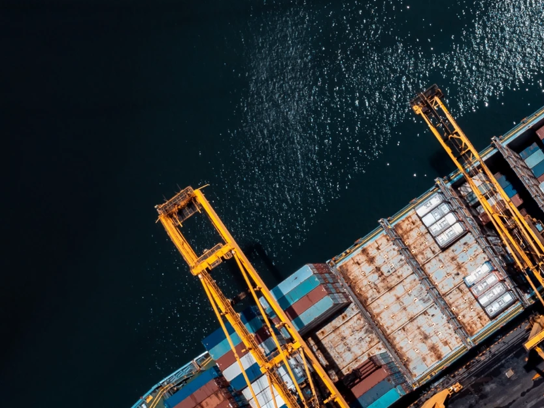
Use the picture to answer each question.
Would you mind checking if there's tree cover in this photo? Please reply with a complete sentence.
No, tree cover can't be seen anywhere here.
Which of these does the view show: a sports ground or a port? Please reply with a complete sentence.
The picture captures a port.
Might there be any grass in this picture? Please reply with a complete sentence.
No, there is no grass in the image.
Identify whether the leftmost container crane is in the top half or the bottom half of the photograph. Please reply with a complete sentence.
The bottom half of the photo is where the leftmost container crane is.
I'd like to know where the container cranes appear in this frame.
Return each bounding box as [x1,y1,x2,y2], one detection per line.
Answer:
[403,81,544,362]
[151,180,356,408]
